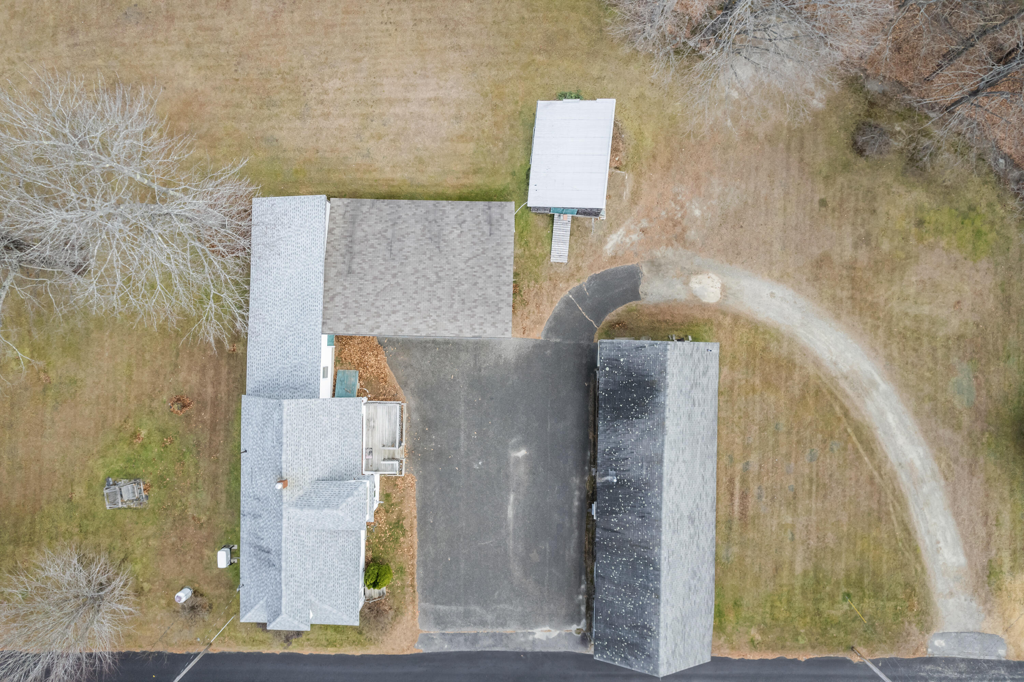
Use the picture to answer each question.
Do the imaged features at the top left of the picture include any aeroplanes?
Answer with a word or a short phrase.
No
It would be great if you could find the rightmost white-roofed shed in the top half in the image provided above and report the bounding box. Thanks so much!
[528,98,615,219]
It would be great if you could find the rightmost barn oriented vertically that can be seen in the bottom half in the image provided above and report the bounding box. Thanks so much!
[590,340,719,678]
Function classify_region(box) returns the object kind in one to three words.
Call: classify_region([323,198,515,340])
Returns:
building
